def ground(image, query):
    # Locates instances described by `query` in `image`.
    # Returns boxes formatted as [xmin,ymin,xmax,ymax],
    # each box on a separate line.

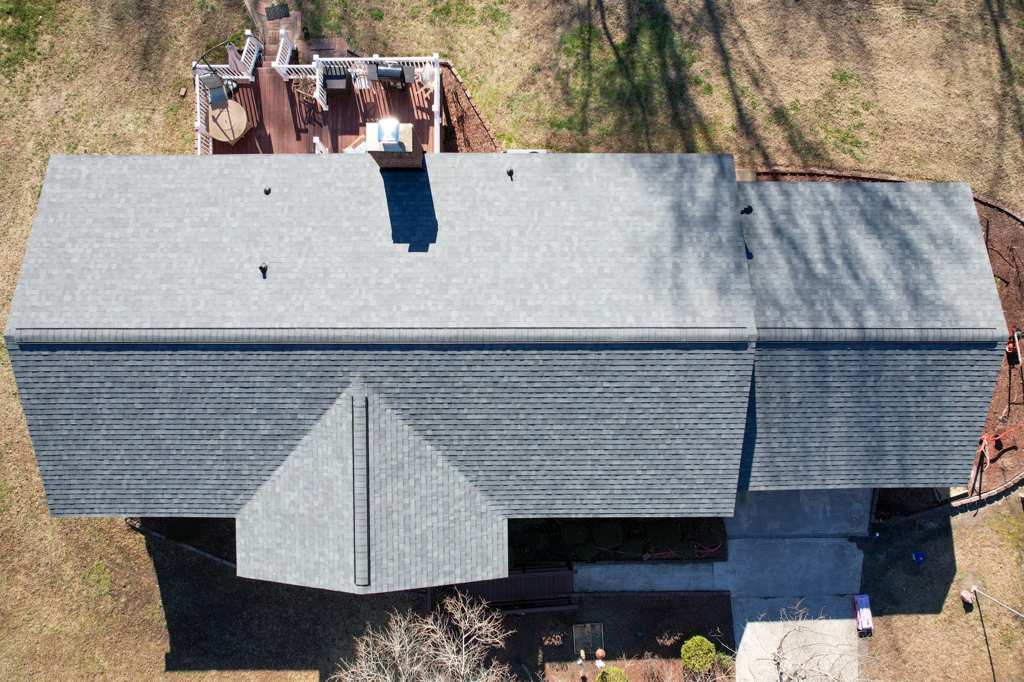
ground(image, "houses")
[4,121,1008,595]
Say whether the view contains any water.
No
